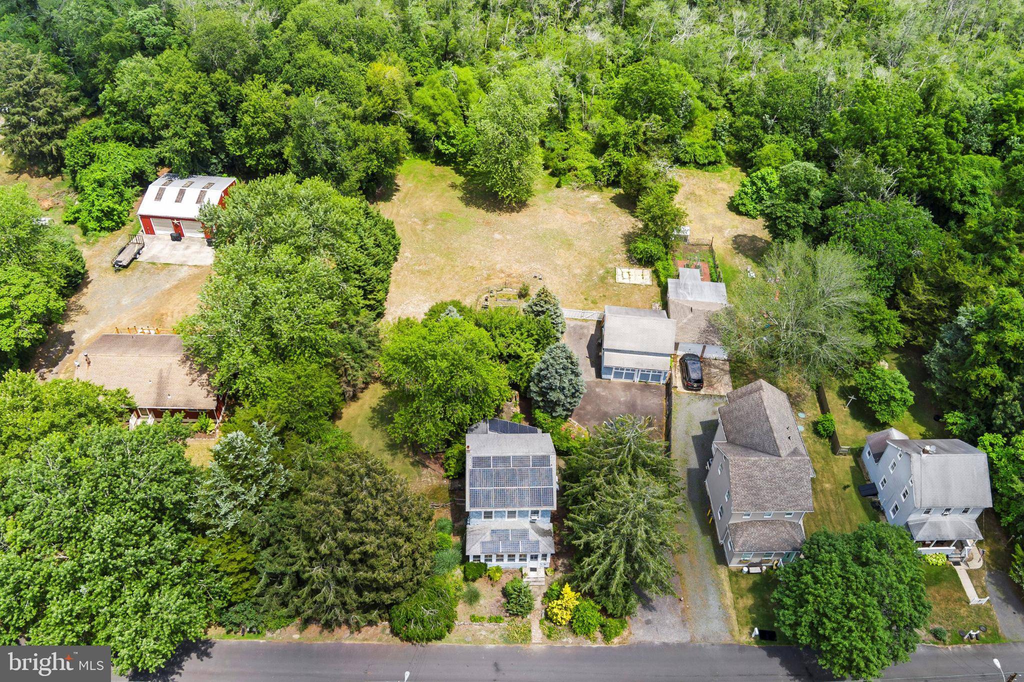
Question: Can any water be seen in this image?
No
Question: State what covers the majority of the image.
trees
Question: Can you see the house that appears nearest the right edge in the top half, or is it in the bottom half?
bottom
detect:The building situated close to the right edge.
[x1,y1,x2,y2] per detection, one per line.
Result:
[861,426,994,567]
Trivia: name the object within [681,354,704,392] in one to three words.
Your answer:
car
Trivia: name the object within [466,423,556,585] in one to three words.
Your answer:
house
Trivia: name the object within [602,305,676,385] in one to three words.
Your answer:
building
